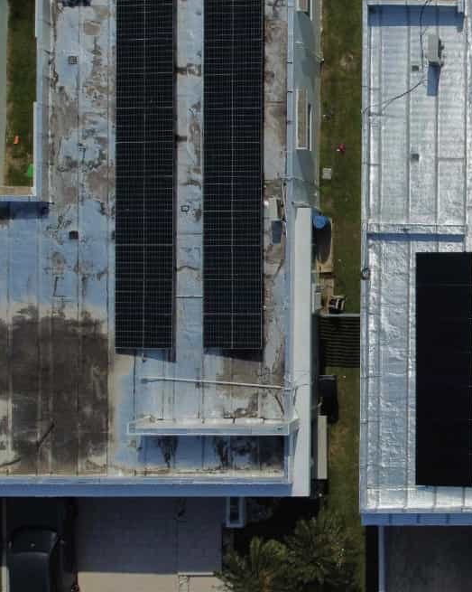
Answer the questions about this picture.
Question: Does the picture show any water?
No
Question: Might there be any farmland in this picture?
No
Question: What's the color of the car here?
black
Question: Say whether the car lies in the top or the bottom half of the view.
bottom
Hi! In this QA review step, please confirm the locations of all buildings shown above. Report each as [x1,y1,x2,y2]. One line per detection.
[362,0,472,524]
[0,0,324,496]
